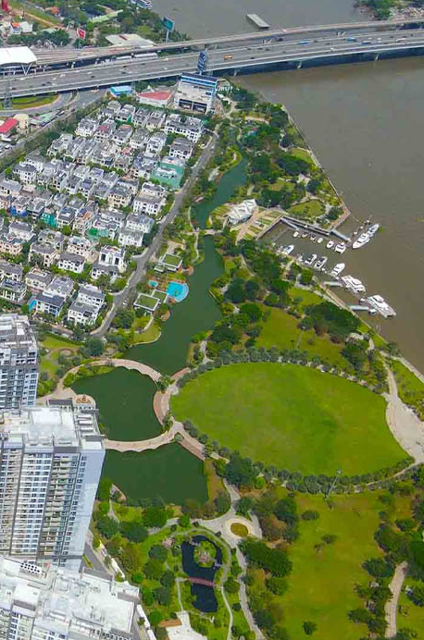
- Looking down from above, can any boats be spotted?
Yes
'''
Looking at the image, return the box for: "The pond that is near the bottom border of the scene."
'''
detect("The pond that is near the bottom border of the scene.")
[182,535,222,612]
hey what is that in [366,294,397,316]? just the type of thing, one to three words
boat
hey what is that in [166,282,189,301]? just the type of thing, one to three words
swimming pool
